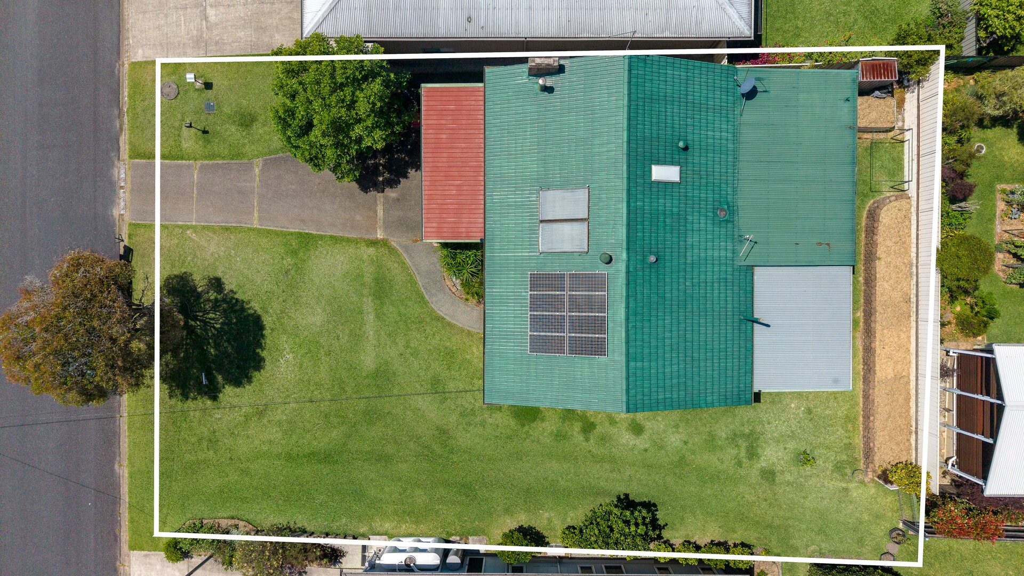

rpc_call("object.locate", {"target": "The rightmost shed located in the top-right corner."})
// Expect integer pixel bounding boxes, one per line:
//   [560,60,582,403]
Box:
[852,55,899,92]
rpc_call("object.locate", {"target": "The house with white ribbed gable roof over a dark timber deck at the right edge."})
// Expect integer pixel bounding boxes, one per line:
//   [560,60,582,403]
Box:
[942,340,1024,500]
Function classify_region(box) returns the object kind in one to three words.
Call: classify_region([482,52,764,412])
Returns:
house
